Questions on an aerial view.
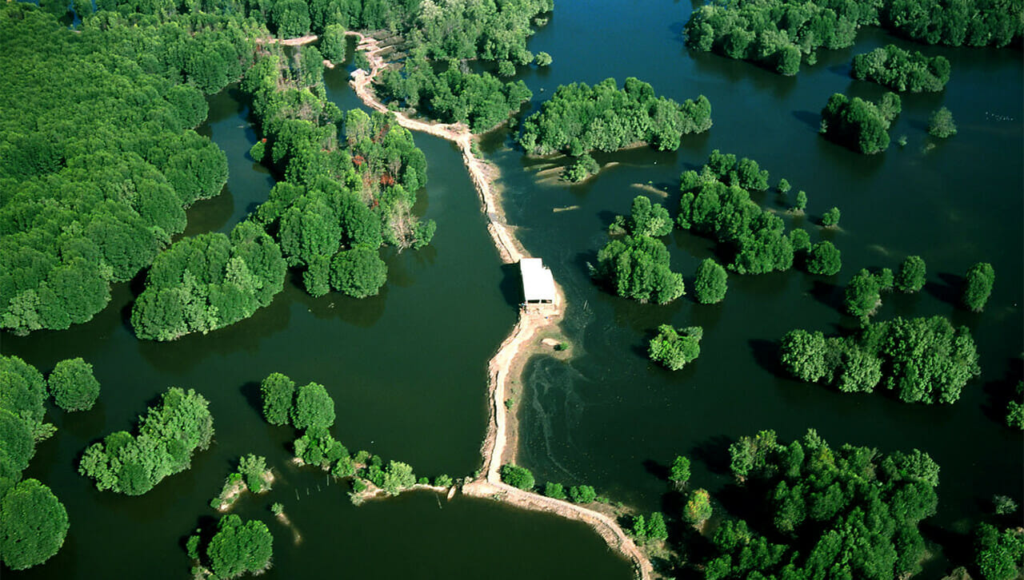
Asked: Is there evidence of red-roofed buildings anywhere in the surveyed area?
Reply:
No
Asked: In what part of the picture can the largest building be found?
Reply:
center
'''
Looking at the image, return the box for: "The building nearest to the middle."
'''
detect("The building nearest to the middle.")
[520,257,555,314]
